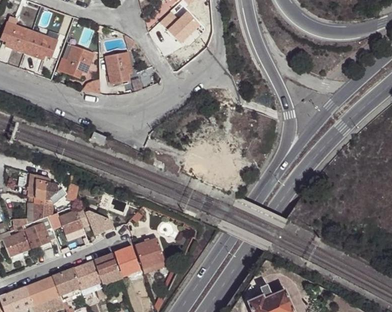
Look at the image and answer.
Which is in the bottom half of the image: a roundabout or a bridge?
bridge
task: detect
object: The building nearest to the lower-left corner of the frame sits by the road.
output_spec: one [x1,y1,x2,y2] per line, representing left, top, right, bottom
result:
[0,286,33,312]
